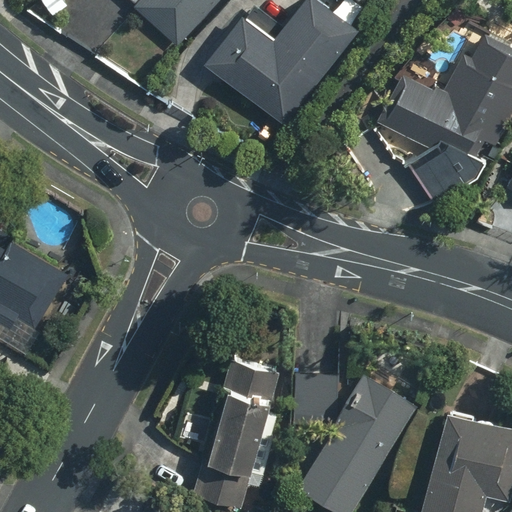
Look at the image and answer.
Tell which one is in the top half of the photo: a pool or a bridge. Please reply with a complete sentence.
Visible in the top half of the photo is a pool.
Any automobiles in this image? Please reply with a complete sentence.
Yes, the image includes an automobile.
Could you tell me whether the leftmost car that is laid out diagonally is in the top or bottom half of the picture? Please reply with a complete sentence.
You can find the leftmost car that is laid out diagonally in the top half.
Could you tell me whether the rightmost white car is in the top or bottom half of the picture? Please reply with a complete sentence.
The rightmost white car is in the bottom half of the image.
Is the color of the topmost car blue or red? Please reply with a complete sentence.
In this view, the topmost car is red.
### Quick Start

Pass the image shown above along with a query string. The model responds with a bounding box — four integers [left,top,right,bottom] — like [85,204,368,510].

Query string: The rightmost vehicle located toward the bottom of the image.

[154,464,185,488]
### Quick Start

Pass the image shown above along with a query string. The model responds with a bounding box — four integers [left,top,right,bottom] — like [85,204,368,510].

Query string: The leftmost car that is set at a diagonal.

[92,160,122,188]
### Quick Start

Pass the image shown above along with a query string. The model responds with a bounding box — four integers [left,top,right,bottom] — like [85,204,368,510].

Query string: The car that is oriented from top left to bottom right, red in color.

[258,0,288,24]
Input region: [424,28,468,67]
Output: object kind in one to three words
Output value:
swimming pool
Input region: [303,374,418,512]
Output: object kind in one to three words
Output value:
house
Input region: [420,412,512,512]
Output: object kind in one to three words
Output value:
house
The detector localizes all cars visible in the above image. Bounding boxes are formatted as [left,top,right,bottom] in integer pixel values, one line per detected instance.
[92,160,122,188]
[258,0,288,24]
[18,502,34,512]
[154,464,185,488]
